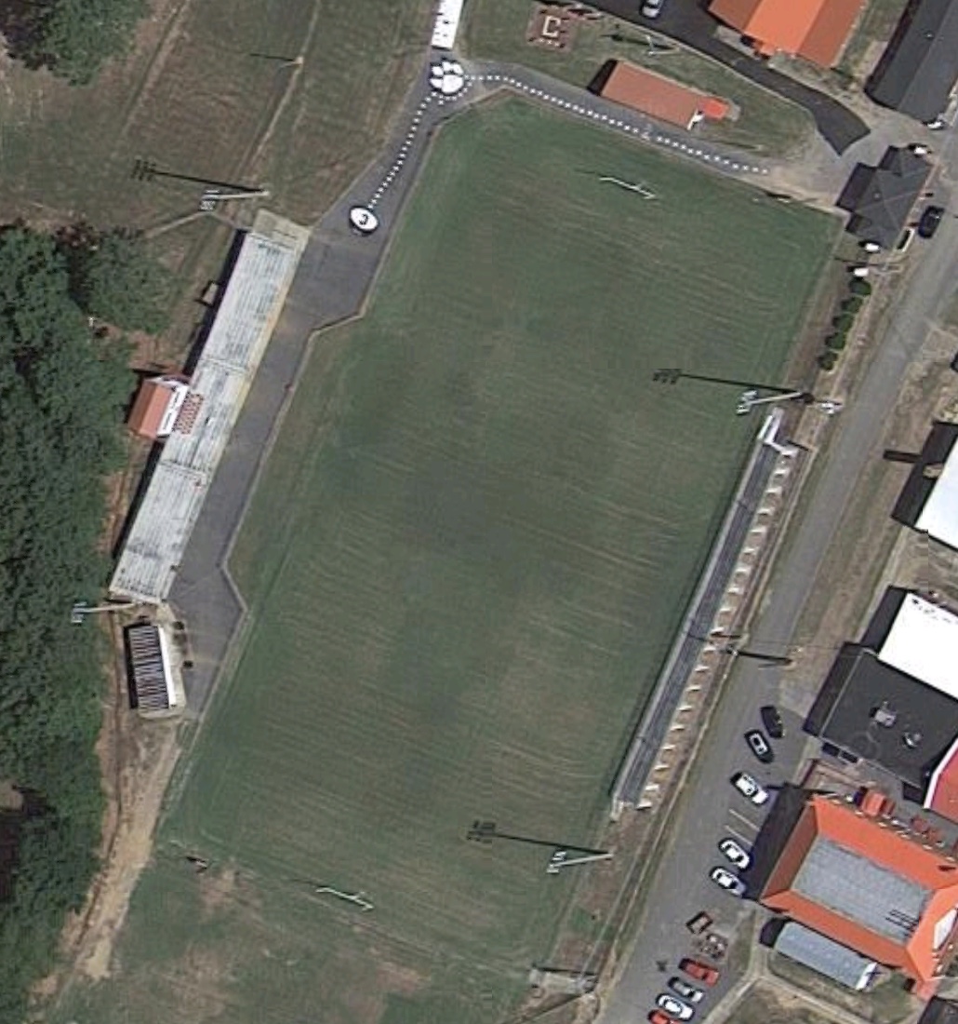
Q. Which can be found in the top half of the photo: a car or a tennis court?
car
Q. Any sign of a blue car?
No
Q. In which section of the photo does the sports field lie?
center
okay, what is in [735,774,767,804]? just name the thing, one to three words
car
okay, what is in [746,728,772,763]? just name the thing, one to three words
car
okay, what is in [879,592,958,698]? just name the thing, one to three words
building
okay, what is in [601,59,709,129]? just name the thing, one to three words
shed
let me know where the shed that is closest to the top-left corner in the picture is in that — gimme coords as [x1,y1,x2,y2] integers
[202,283,223,304]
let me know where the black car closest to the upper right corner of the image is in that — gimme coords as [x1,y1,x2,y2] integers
[921,203,945,239]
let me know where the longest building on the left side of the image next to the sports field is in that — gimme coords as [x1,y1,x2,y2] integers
[129,625,177,709]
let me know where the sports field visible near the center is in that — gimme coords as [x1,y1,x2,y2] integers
[158,95,842,970]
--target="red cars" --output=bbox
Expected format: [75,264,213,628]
[683,958,718,985]
[648,1010,679,1024]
